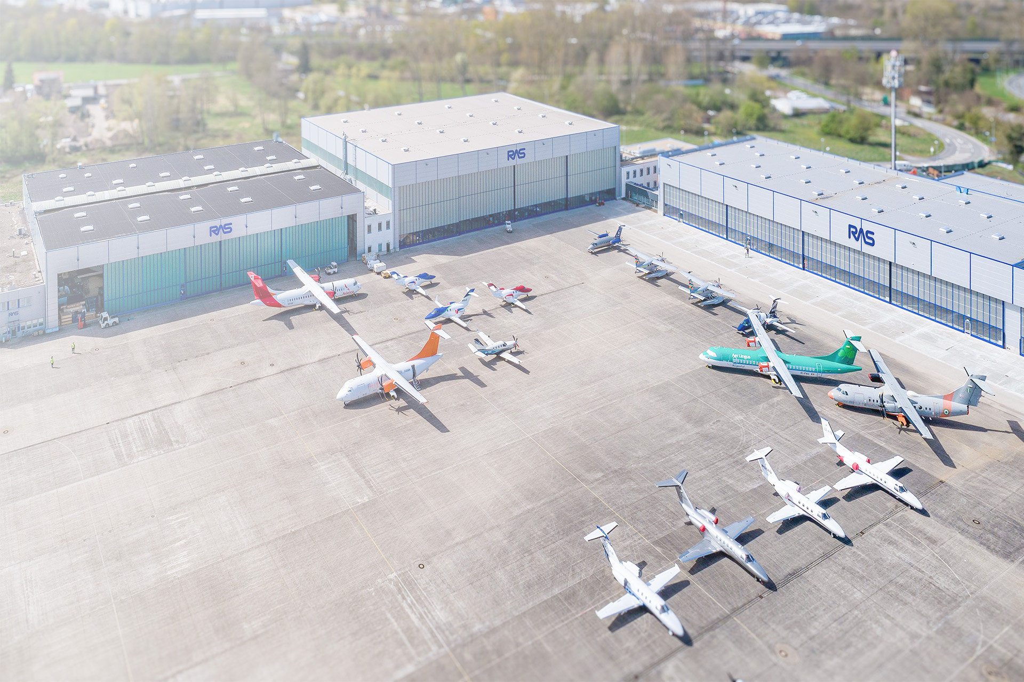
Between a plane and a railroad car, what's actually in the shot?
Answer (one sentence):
This aerial view contains a plane.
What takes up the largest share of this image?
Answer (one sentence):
The largest share of the image is taken up by paved ground.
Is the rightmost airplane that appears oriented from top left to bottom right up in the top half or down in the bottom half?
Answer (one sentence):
Seen from above, the rightmost airplane that appears oriented from top left to bottom right lies in the bottom half of the view.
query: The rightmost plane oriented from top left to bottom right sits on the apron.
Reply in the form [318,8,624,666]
[816,420,923,511]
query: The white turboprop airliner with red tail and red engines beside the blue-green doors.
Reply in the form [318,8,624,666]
[245,257,364,312]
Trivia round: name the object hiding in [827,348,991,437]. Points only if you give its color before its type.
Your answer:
white airplane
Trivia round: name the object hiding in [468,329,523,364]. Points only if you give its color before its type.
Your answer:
white airplane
